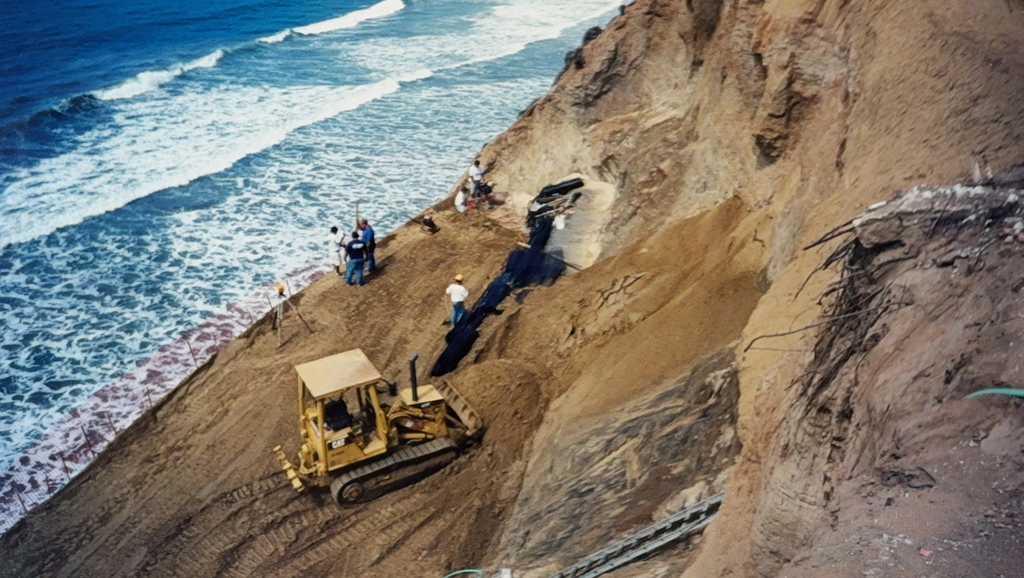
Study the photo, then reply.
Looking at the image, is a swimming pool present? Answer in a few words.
No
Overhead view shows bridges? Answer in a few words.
No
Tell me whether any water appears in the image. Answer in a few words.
Yes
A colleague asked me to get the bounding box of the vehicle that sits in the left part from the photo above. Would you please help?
[272,346,484,506]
